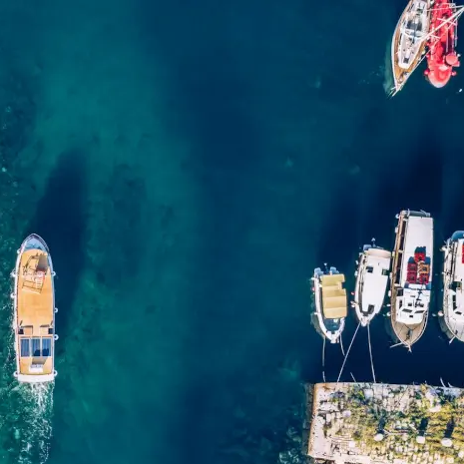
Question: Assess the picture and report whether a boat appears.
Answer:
Yes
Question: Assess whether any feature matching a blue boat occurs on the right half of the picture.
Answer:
No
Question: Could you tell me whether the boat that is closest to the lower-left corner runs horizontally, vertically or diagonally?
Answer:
vertically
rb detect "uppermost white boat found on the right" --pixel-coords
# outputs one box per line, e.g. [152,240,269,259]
[384,0,464,100]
